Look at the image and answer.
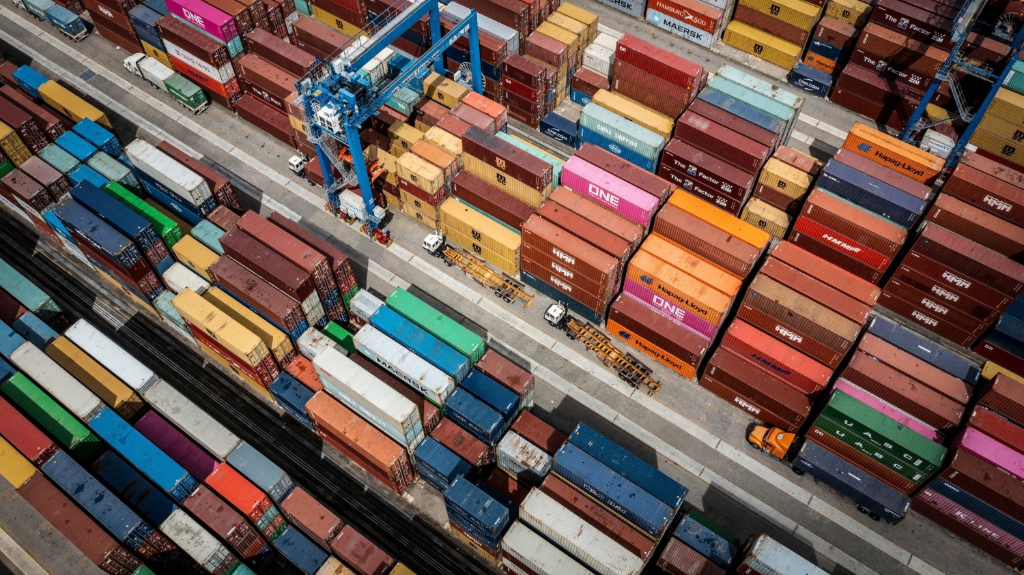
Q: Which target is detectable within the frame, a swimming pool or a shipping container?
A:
shipping container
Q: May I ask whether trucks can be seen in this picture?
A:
Yes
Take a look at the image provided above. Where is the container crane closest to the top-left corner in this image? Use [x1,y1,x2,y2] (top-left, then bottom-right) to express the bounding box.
[285,0,490,247]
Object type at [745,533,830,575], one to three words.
shipping container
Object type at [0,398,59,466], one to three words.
shipping container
